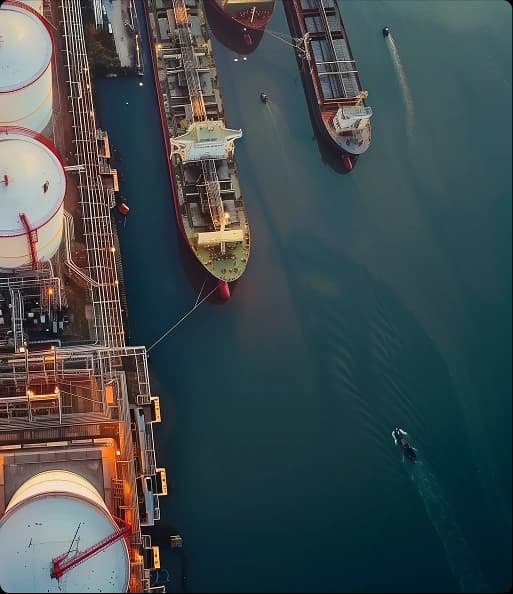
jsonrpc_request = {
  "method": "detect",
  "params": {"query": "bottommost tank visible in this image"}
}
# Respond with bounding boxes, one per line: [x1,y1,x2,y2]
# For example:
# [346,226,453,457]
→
[0,470,134,594]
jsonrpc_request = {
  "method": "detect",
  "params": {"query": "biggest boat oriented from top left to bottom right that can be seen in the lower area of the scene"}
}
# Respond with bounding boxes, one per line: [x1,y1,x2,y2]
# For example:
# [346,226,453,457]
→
[396,430,418,462]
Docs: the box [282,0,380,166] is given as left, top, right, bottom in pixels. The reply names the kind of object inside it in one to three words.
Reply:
ship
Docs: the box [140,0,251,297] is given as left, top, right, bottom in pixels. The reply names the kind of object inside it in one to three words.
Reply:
ship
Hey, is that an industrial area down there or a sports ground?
industrial area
